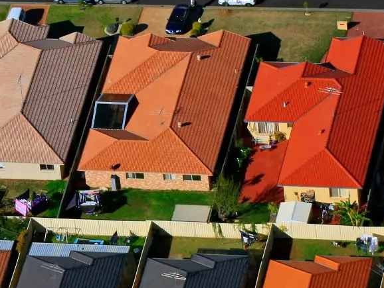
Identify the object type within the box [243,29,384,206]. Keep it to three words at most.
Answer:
house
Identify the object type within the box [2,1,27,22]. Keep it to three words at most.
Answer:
vehicle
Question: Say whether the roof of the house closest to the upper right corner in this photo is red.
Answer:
Yes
